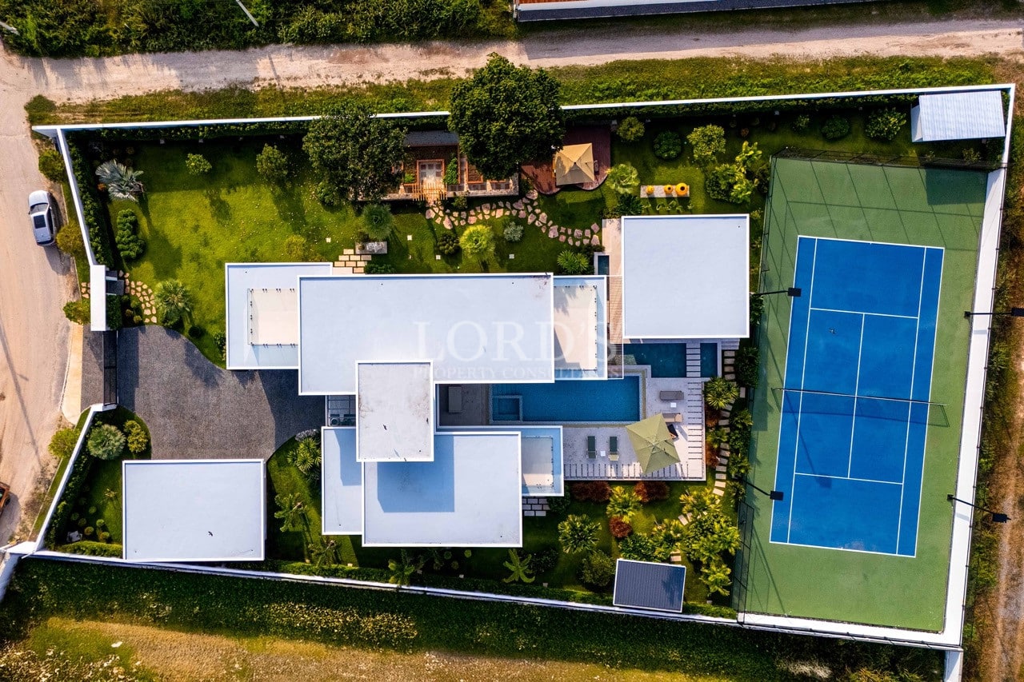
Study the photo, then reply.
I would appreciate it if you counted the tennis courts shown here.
1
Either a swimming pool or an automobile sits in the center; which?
swimming pool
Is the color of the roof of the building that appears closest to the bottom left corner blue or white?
white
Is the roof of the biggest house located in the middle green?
No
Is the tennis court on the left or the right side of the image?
right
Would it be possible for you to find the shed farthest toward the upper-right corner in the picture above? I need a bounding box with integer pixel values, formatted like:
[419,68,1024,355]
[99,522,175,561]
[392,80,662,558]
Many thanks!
[905,91,1006,146]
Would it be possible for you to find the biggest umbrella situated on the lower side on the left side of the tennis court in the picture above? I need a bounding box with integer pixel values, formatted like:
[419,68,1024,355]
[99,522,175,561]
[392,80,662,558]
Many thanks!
[626,413,680,475]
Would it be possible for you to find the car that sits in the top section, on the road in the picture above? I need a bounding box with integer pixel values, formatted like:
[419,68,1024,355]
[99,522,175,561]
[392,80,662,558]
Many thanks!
[24,188,62,246]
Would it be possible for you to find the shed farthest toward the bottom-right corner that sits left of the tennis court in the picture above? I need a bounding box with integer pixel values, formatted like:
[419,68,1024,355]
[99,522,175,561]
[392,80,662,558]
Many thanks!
[613,558,687,613]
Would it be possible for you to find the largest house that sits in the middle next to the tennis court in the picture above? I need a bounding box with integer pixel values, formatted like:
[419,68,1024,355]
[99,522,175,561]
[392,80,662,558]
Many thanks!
[226,263,607,547]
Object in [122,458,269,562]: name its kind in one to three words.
building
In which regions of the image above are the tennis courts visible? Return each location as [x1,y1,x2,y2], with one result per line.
[738,158,984,632]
